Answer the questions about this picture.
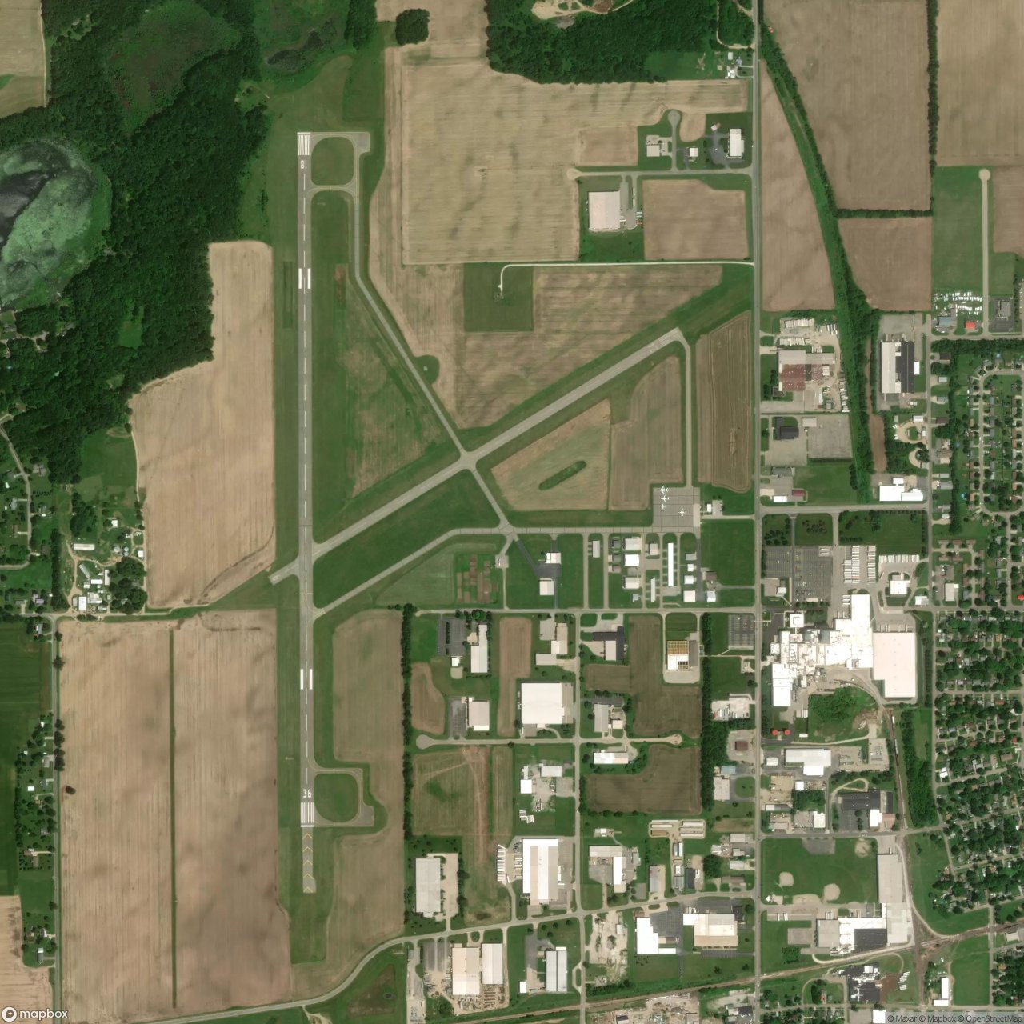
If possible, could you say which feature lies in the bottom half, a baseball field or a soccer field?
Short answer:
baseball field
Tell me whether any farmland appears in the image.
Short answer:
Yes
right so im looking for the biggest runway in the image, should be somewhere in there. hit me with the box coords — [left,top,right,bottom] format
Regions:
[298,132,314,827]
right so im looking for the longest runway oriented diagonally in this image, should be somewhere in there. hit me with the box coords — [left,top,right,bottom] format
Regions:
[269,327,676,585]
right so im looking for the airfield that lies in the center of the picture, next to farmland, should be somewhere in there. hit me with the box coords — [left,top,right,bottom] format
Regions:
[269,132,707,893]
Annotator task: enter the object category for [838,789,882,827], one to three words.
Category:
building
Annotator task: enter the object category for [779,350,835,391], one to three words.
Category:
building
